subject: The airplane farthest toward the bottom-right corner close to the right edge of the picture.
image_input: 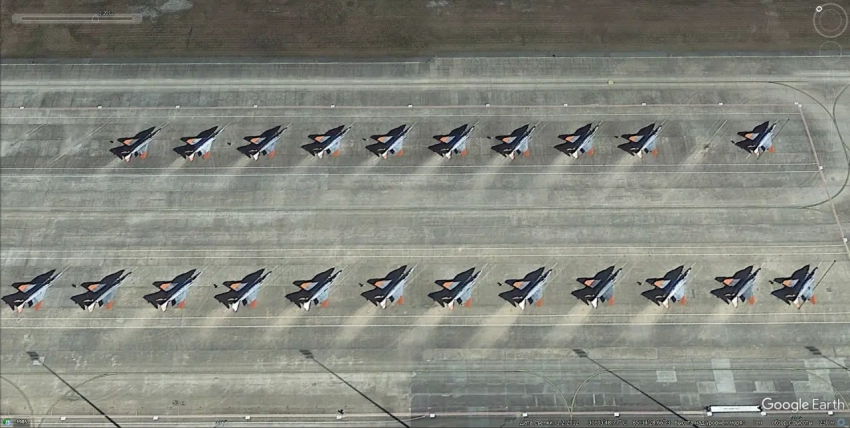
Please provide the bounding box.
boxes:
[784,267,819,309]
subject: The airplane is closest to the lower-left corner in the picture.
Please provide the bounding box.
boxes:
[9,272,59,315]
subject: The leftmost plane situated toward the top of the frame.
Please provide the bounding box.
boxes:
[115,128,159,163]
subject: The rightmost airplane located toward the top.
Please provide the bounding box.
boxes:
[743,123,778,158]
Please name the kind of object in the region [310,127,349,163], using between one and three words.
airplane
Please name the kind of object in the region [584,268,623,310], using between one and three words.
airplane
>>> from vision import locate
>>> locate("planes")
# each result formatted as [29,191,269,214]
[225,270,271,314]
[373,125,412,162]
[784,267,819,309]
[725,268,763,310]
[498,124,536,161]
[180,128,222,163]
[563,124,598,160]
[654,268,692,310]
[370,268,413,310]
[511,269,552,312]
[584,268,623,310]
[743,123,778,158]
[154,272,200,314]
[296,270,341,313]
[441,270,481,313]
[310,127,349,163]
[628,124,662,160]
[9,272,59,315]
[115,128,159,163]
[81,271,129,315]
[245,126,286,163]
[436,125,474,161]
